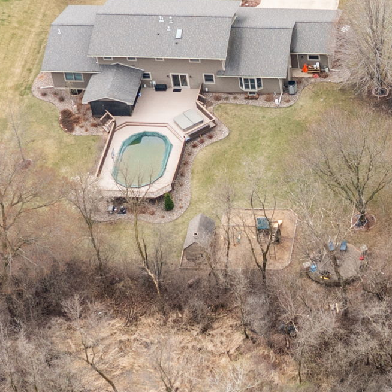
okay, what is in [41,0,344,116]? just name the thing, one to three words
house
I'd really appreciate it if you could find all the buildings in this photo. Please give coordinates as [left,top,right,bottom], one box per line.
[41,0,344,116]
[175,217,215,269]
